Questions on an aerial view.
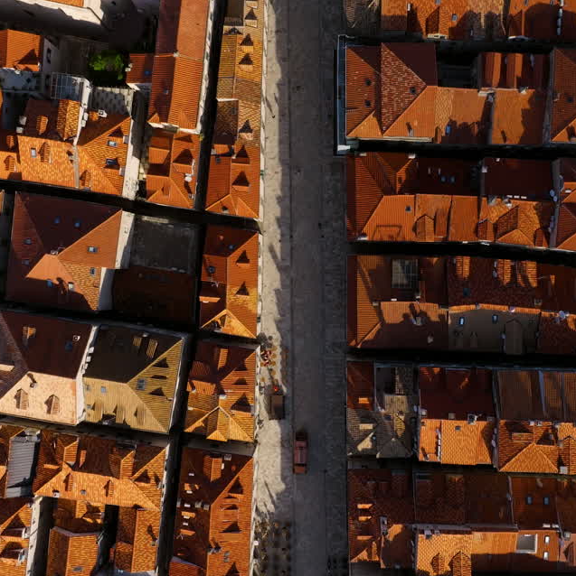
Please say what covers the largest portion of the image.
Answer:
buildings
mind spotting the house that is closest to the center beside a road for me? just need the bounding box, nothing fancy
[201,225,265,338]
